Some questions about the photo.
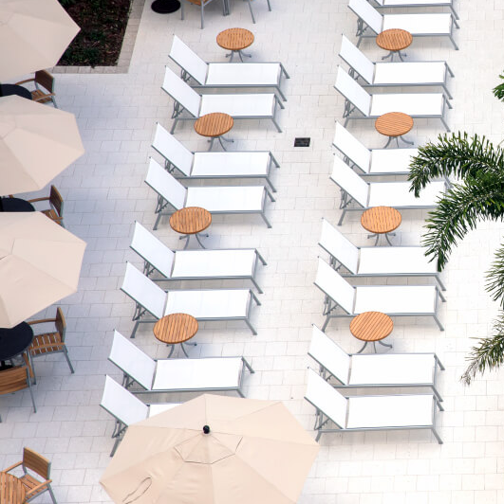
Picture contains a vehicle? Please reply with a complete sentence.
No, there appears to be no vehicle in this shot.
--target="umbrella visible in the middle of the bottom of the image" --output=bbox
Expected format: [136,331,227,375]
[96,389,326,504]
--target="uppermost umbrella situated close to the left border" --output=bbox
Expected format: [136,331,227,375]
[0,0,78,72]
